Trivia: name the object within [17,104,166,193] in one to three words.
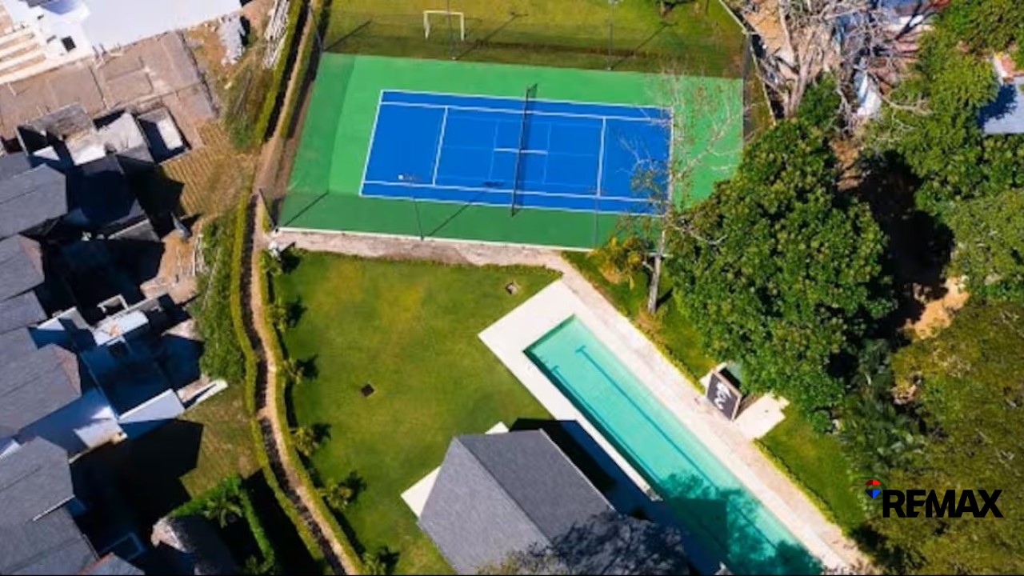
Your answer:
house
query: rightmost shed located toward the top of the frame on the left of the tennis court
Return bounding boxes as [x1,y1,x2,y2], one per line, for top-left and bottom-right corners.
[136,108,195,177]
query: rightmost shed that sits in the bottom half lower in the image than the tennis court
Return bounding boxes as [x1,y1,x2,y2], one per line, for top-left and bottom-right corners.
[707,372,755,420]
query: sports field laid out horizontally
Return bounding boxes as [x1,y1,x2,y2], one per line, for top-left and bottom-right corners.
[329,0,748,76]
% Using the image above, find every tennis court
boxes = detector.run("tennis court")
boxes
[272,53,748,260]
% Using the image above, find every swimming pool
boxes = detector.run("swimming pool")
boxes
[527,315,828,576]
